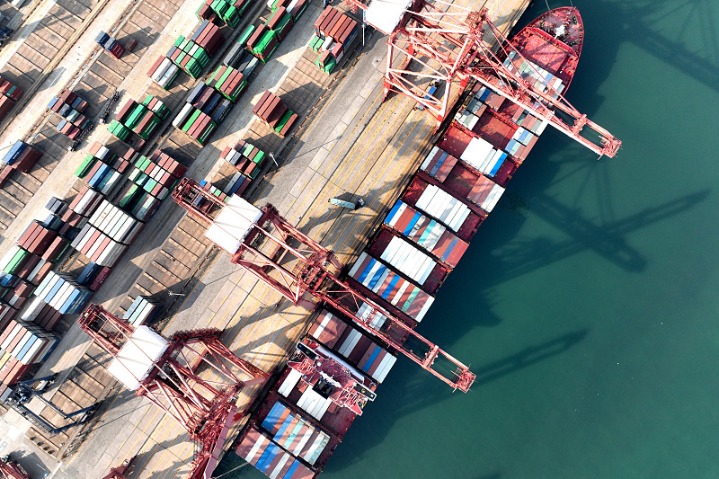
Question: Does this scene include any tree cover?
No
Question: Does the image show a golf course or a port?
port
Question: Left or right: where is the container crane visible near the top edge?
right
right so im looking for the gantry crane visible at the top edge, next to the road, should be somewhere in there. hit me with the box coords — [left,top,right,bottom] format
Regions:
[337,0,628,161]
